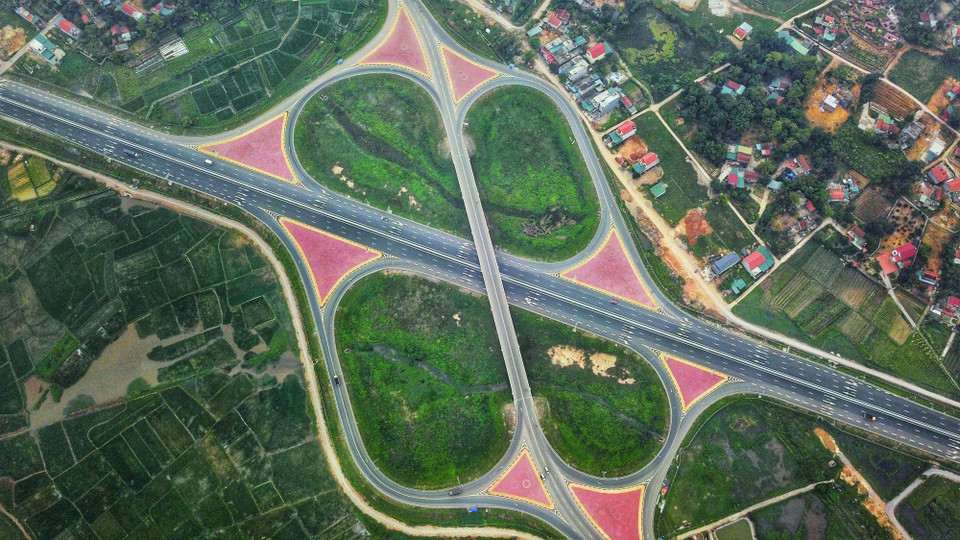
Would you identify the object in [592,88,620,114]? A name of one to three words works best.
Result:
house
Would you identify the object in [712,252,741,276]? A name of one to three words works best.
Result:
house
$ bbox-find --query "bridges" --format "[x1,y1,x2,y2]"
[453,150,531,397]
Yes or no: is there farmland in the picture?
Yes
